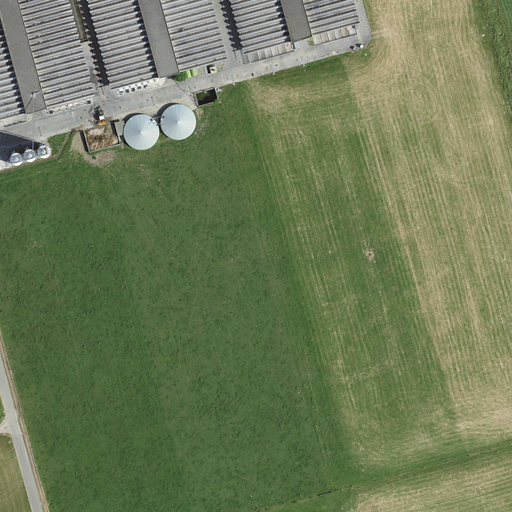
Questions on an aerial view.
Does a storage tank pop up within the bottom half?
No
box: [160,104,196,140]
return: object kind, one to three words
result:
storage tank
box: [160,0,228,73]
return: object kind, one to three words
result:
barn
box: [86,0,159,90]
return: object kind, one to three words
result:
barn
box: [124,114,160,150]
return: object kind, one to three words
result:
storage tank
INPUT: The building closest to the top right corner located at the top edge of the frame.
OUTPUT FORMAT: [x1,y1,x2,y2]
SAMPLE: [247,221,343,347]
[304,0,360,36]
